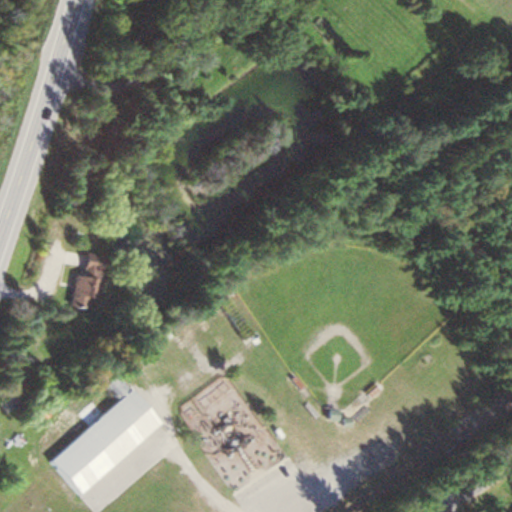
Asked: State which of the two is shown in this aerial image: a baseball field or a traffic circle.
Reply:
baseball field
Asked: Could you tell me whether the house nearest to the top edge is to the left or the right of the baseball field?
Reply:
to its left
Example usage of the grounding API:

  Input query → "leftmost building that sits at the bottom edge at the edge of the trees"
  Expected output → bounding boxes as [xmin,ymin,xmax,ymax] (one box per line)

[54,391,162,495]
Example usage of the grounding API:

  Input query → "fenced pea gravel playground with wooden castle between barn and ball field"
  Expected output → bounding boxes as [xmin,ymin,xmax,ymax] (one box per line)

[180,376,288,489]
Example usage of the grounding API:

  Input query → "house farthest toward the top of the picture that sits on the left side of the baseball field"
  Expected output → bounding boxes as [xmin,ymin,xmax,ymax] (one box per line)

[72,252,108,310]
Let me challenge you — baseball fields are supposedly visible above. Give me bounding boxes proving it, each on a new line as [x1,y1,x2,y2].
[234,244,446,408]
